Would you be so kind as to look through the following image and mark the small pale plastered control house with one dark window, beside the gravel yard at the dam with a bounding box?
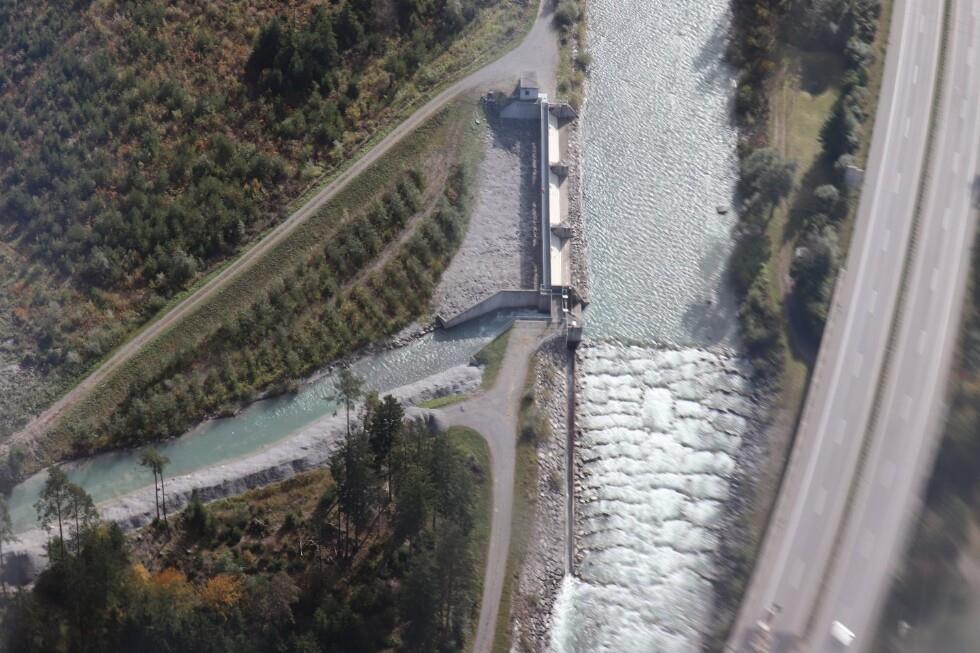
[519,76,539,101]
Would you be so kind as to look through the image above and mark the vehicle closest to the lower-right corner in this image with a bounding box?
[834,621,855,653]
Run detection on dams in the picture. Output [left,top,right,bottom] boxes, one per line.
[503,90,578,293]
